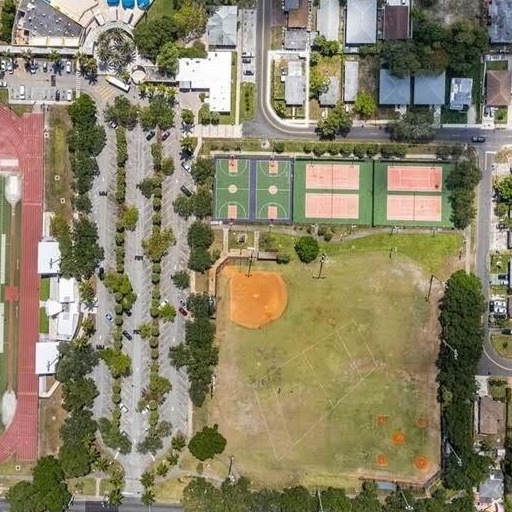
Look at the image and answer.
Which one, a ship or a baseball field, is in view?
baseball field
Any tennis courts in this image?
Yes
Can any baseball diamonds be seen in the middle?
Yes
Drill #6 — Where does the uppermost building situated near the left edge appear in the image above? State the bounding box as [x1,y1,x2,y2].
[18,0,84,38]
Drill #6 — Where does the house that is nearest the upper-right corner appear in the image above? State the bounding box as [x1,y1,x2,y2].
[487,0,512,43]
